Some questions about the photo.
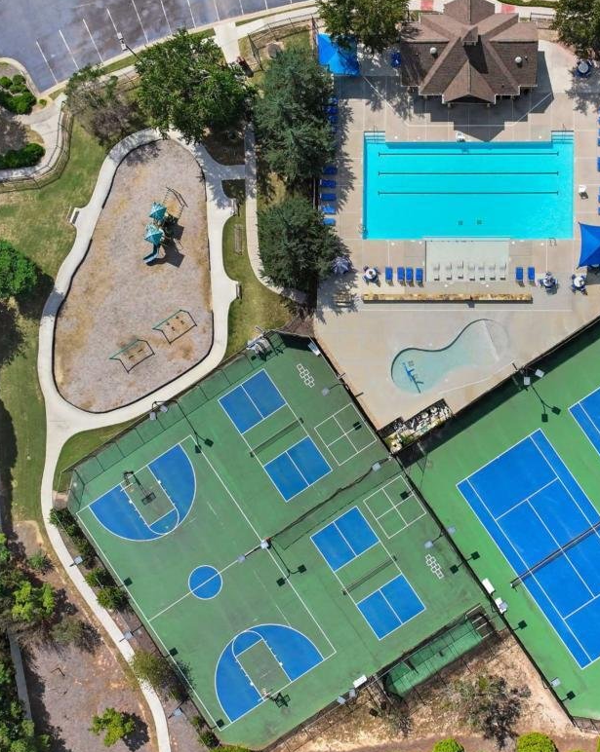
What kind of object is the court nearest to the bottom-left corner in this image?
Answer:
basketball court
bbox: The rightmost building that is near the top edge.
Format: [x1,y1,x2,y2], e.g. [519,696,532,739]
[400,0,542,111]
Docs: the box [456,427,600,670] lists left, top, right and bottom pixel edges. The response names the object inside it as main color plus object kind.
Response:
blue tennis court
